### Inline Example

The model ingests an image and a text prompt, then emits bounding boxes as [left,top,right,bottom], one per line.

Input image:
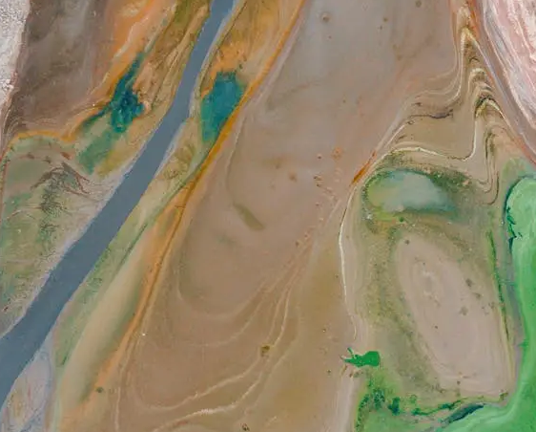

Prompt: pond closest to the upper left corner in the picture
[80,51,146,134]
